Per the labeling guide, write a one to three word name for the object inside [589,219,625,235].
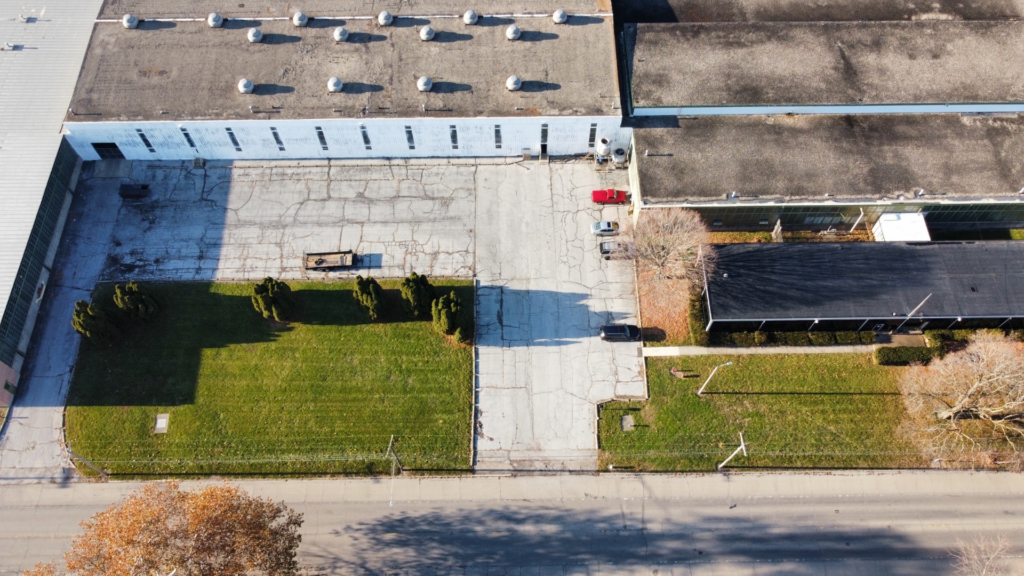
car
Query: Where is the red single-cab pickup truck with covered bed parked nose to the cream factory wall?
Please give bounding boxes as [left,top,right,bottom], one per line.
[591,188,626,204]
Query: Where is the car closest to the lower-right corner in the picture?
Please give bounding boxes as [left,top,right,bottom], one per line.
[600,321,640,340]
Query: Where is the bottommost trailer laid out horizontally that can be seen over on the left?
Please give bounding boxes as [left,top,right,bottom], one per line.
[299,246,364,270]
